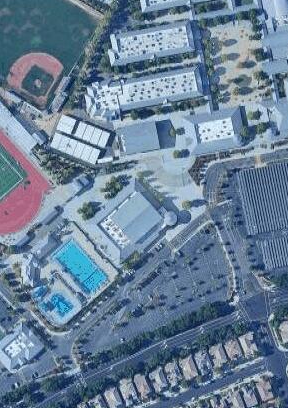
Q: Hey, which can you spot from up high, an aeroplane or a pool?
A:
pool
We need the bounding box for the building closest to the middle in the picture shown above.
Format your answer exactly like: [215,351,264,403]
[98,180,179,254]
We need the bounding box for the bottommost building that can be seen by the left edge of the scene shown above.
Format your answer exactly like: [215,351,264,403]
[0,323,45,373]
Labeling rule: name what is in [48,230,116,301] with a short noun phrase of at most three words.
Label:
swimming pool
